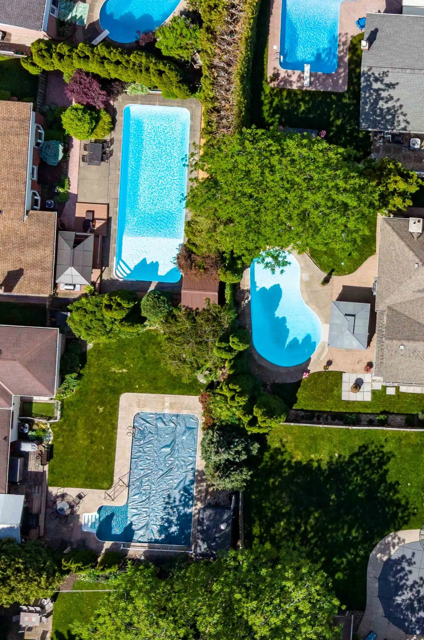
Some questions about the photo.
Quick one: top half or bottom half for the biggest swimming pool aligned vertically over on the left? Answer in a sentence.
Seen from above, the biggest swimming pool aligned vertically over on the left lies in the top half of the view.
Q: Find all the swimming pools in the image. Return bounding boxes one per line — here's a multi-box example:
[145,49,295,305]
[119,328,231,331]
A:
[114,104,191,283]
[249,250,323,368]
[273,0,355,74]
[82,412,199,547]
[99,0,182,43]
